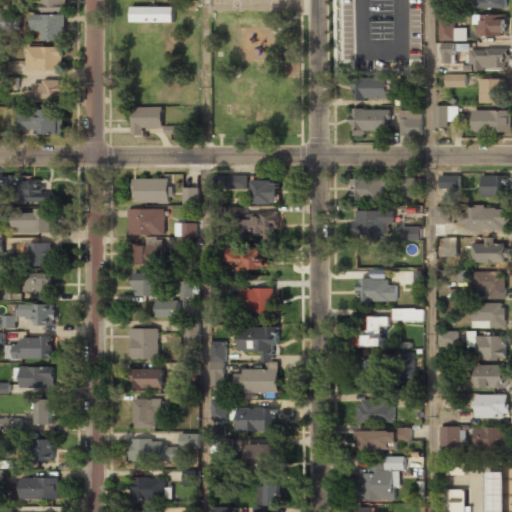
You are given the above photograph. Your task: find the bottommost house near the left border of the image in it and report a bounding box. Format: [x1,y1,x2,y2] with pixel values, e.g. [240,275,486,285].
[16,478,60,500]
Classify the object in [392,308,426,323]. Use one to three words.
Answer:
shed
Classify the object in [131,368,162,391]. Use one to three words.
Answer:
house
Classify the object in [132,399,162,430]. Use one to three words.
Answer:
house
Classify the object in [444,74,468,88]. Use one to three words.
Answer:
building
